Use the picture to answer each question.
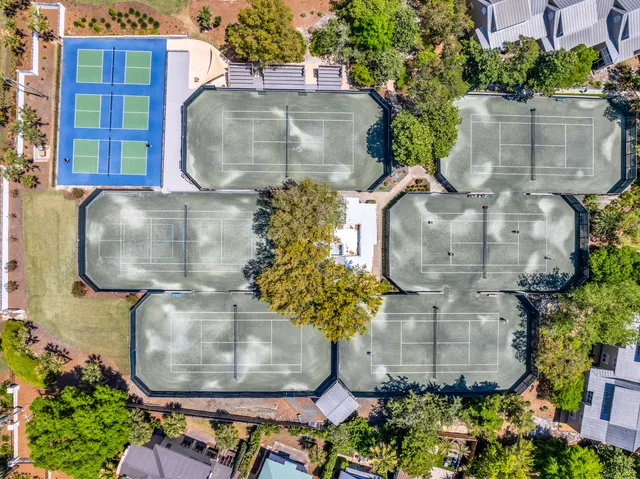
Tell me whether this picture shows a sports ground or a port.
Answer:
sports ground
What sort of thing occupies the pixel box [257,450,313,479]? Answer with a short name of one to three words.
house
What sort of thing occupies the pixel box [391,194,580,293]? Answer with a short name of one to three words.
tennis court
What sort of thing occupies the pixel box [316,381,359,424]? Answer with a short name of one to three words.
building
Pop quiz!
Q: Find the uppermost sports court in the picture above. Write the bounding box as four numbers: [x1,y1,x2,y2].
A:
[76,46,152,86]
